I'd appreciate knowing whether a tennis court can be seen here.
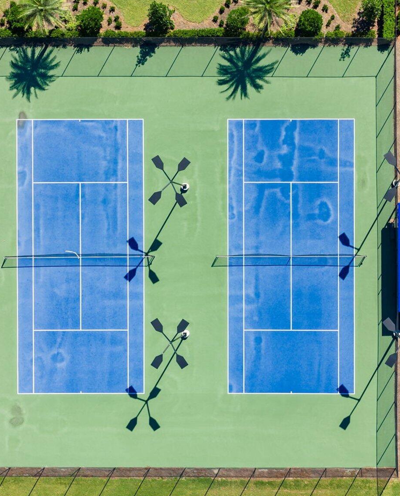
Yes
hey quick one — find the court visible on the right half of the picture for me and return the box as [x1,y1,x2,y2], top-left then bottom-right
[185,47,397,467]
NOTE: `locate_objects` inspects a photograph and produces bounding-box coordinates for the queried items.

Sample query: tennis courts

[0,47,185,467]
[185,47,397,467]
